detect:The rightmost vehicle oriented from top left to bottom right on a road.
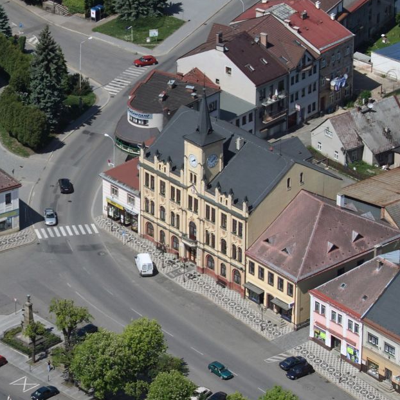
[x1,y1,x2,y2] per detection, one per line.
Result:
[207,357,234,377]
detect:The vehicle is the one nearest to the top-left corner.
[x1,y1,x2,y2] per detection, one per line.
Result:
[133,52,158,65]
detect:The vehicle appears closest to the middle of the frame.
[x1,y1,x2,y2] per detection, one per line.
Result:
[137,254,152,271]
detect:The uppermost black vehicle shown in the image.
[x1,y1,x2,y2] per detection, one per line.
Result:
[59,176,73,193]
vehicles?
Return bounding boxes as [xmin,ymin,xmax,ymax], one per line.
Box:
[137,254,152,271]
[207,389,229,400]
[207,357,234,377]
[279,353,308,369]
[288,360,316,378]
[59,176,73,193]
[133,52,158,65]
[0,351,9,364]
[44,205,57,224]
[30,384,59,400]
